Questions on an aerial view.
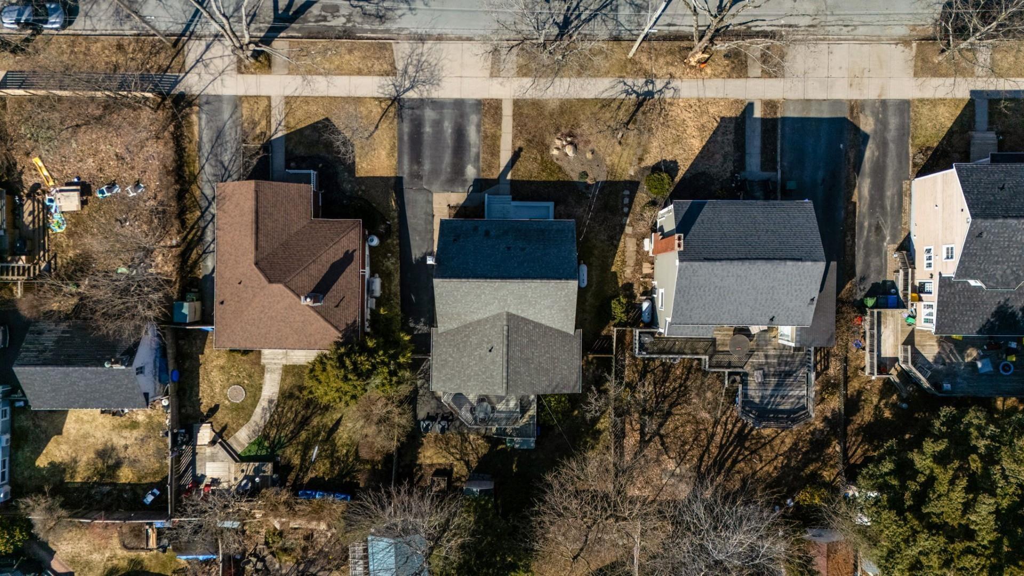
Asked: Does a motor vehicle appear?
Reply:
Yes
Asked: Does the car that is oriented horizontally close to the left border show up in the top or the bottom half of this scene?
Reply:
top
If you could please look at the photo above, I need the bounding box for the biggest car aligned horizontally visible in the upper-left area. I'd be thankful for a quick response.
[2,1,69,33]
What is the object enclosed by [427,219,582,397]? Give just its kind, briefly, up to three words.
house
